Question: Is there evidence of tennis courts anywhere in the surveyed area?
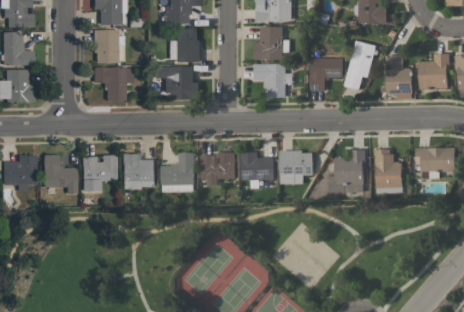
Yes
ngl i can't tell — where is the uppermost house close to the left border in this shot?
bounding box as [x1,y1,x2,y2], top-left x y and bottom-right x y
[0,0,36,28]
